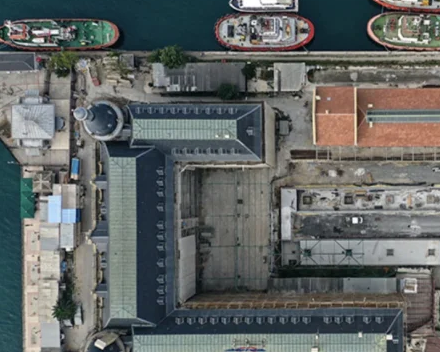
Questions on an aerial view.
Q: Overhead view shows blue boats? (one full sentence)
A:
No, there isn't any blue boat down there.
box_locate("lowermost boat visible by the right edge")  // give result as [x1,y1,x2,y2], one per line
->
[367,12,440,51]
